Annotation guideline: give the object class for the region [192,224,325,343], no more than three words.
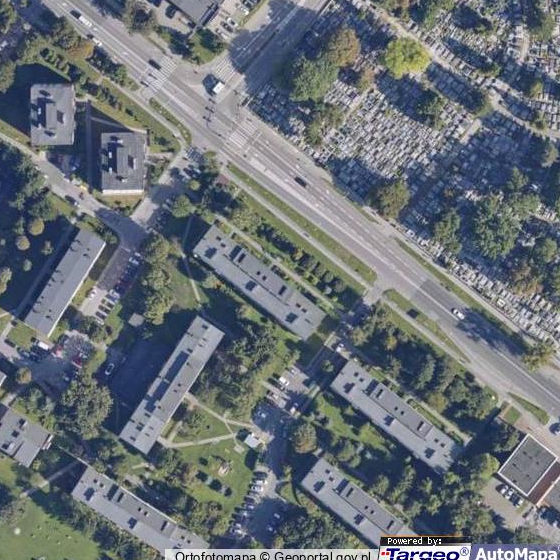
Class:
building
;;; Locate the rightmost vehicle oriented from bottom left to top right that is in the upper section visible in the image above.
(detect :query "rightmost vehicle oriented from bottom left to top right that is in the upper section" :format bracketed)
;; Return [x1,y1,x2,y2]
[210,80,225,94]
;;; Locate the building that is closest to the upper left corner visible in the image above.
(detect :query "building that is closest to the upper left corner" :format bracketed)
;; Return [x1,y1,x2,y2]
[30,84,76,149]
